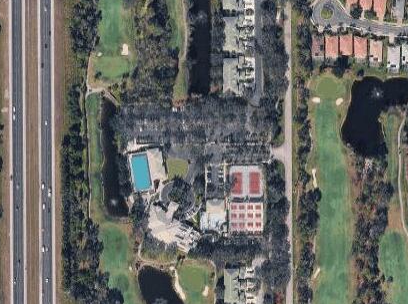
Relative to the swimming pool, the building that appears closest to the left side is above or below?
below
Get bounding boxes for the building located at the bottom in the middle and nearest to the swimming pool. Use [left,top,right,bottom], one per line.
[148,199,202,244]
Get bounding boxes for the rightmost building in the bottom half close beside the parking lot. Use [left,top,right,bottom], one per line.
[206,200,225,221]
